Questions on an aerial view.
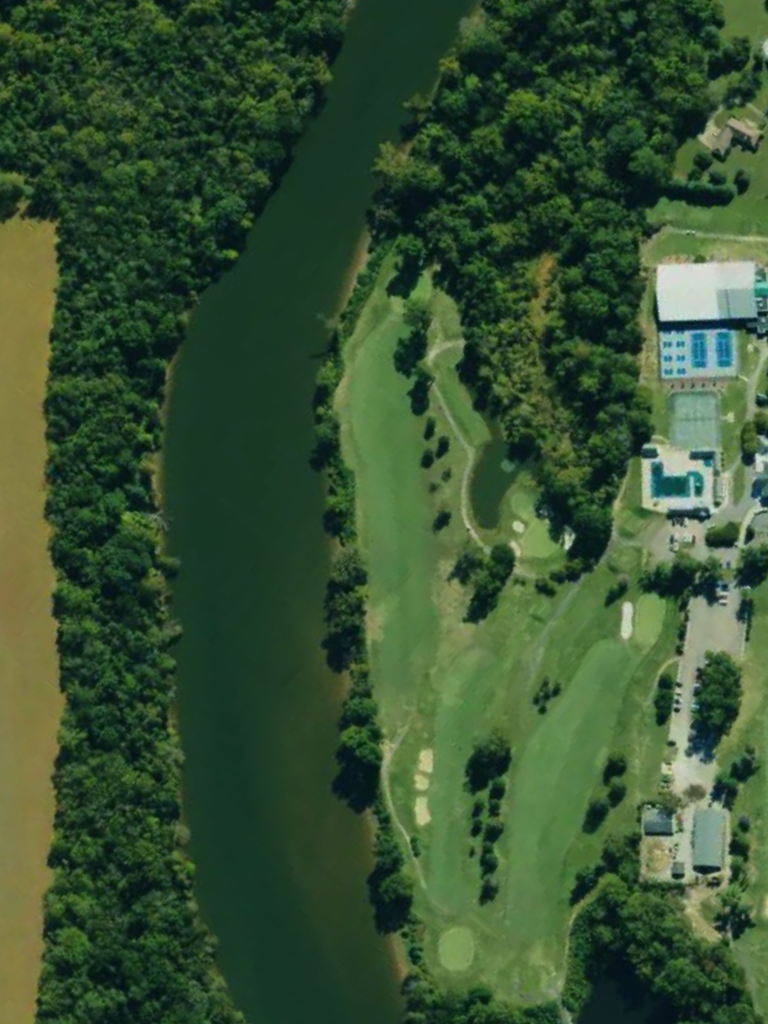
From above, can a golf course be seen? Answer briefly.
Yes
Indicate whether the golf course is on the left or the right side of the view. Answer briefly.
right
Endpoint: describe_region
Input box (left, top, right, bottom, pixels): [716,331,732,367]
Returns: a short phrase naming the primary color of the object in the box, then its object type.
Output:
blue tennis court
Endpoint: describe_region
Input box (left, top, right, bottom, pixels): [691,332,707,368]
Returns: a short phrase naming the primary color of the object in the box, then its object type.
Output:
blue tennis court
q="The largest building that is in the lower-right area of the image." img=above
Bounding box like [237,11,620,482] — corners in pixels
[694,810,727,866]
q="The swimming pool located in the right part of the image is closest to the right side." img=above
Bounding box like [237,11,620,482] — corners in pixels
[642,446,715,516]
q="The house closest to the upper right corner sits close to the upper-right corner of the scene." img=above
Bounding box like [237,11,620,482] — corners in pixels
[712,119,763,155]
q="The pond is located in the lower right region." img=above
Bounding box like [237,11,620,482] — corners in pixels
[572,958,671,1024]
